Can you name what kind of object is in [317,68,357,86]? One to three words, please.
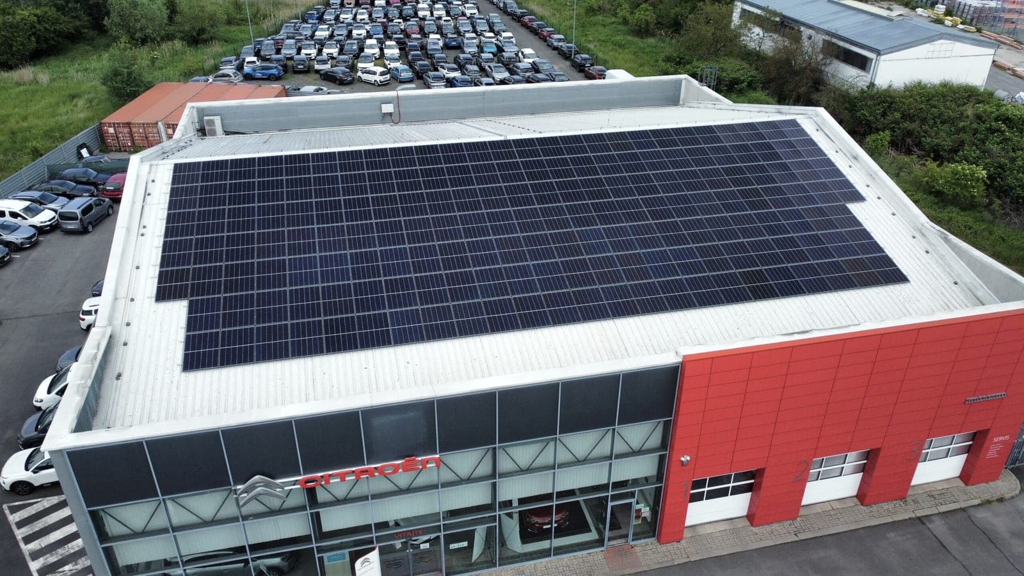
car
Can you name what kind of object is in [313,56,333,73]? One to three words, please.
car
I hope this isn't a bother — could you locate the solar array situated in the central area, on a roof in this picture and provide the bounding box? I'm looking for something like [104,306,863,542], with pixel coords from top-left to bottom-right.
[150,118,908,371]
